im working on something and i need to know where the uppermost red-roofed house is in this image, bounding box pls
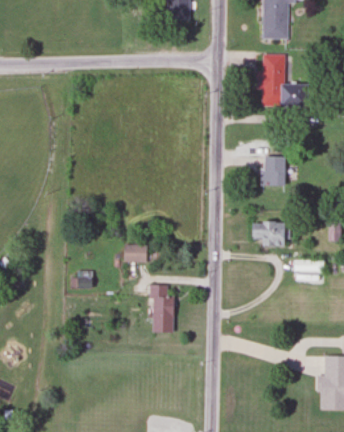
[263,54,308,107]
